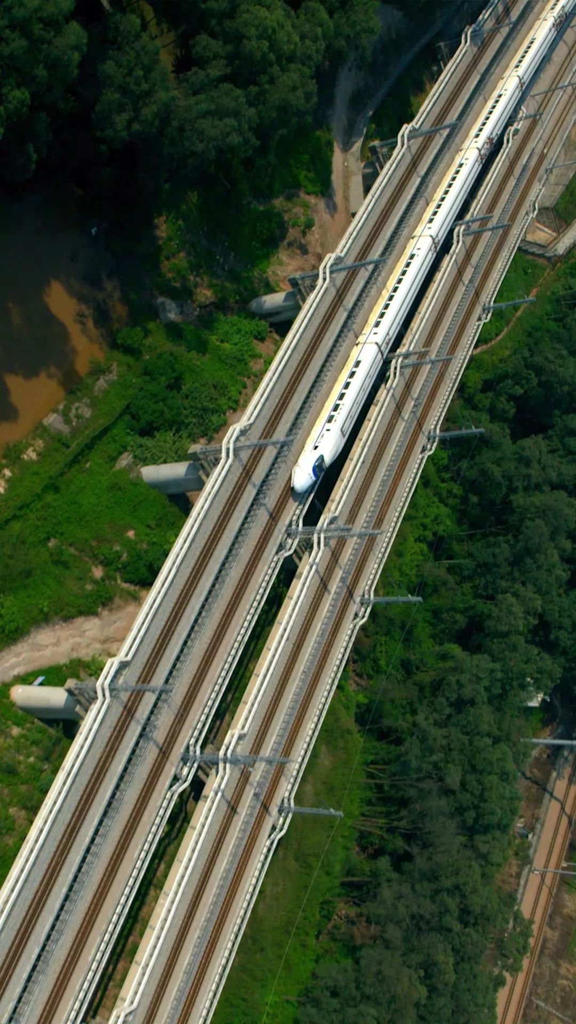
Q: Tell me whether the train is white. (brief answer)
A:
Yes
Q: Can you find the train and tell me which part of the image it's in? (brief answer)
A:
top right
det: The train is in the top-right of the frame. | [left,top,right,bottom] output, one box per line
[289,0,570,495]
